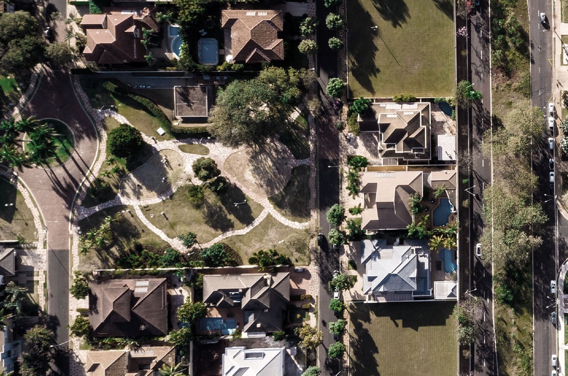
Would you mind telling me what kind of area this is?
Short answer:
residential area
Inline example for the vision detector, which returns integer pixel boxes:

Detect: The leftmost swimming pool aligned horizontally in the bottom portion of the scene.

[199,317,235,335]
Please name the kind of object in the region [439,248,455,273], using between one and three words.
swimming pool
